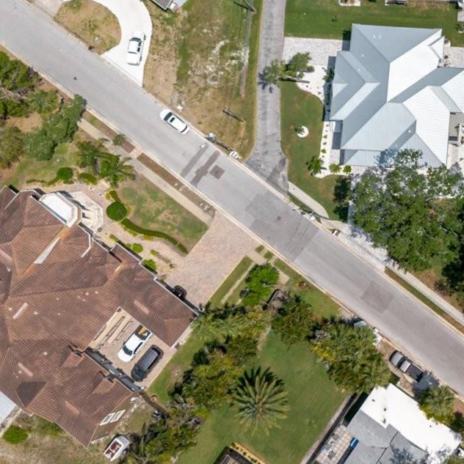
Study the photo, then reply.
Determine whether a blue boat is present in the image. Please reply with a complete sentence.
No, there's no blue boat here.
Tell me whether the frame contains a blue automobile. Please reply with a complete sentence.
No, there isn't any blue automobile down there.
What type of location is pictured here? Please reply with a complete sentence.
This image shows a residential area.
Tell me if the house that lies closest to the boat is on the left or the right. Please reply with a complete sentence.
It is on the left.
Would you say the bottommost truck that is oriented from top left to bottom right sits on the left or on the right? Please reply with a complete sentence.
It is on the right.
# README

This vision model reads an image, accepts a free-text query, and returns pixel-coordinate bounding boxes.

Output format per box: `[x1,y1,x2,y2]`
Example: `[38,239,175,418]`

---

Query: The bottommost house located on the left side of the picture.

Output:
[0,187,207,448]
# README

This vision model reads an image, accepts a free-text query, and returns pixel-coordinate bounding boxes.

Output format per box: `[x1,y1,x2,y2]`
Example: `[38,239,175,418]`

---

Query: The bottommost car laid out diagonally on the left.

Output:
[132,345,165,382]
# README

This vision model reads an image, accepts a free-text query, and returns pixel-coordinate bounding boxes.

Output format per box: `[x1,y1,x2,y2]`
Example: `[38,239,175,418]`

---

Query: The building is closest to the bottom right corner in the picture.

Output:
[335,383,462,464]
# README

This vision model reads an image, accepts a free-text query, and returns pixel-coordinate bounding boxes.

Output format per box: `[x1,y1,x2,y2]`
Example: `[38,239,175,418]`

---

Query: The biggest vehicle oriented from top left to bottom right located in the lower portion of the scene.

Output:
[390,351,426,384]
